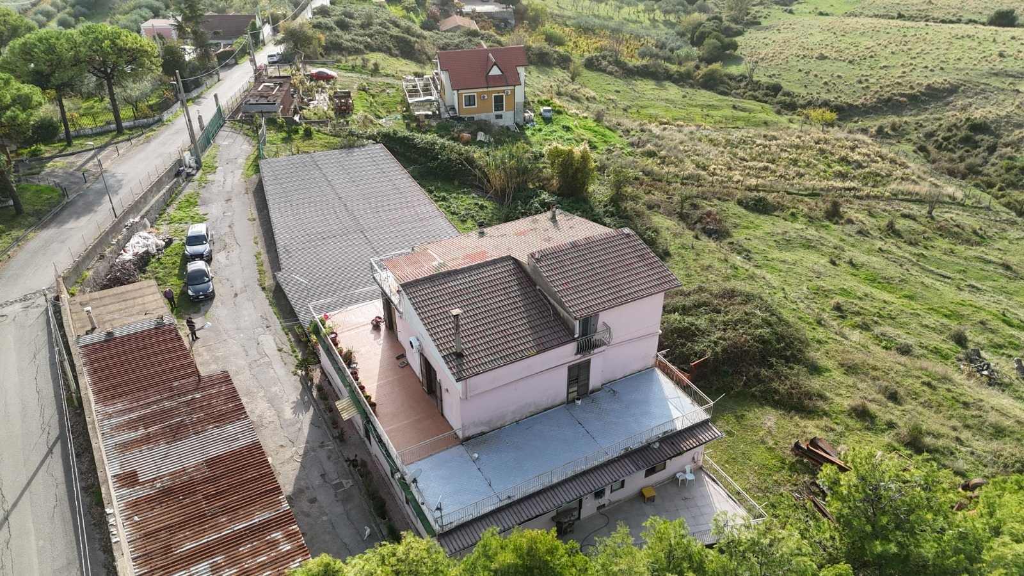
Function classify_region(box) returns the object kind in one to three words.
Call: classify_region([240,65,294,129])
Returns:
building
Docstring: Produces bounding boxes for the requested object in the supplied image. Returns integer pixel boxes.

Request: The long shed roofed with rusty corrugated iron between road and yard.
[70,279,315,576]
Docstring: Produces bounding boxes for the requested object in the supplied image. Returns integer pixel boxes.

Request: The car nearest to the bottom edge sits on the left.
[183,257,218,301]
